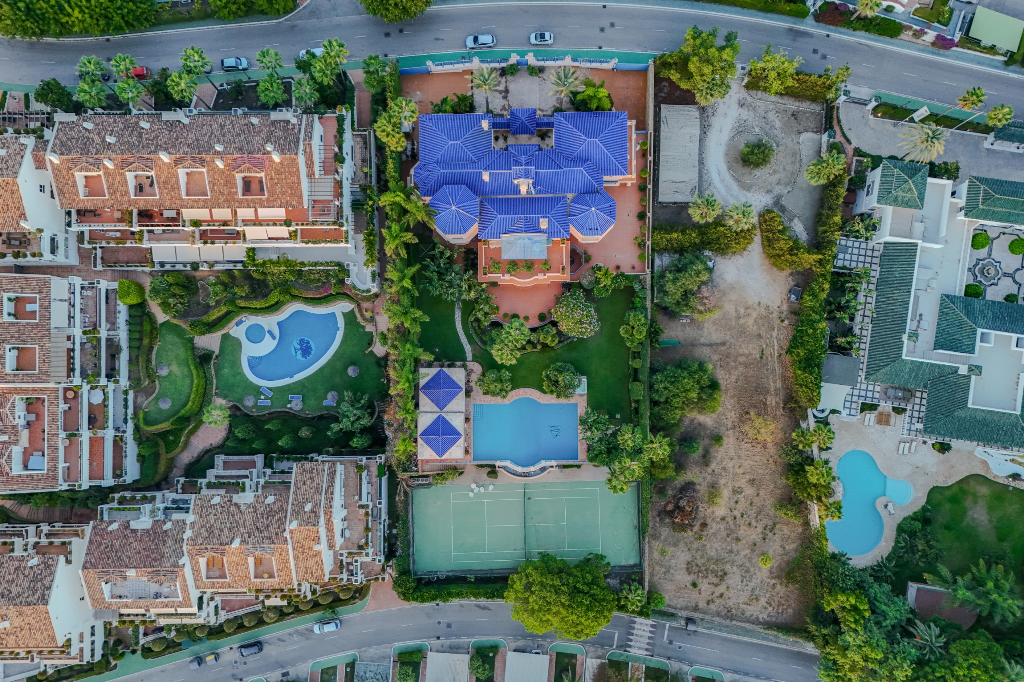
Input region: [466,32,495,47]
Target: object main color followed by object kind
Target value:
blue car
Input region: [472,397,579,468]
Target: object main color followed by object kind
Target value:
blue swimming pool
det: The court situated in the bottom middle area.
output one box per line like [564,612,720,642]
[413,482,640,573]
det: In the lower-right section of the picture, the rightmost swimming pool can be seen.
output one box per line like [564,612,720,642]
[825,449,915,556]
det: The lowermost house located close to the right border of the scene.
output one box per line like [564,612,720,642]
[853,159,1024,448]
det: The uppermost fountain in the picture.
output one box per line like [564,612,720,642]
[973,255,1005,287]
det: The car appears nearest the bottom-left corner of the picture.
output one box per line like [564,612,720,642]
[234,642,263,660]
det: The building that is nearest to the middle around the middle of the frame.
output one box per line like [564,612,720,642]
[419,367,465,411]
